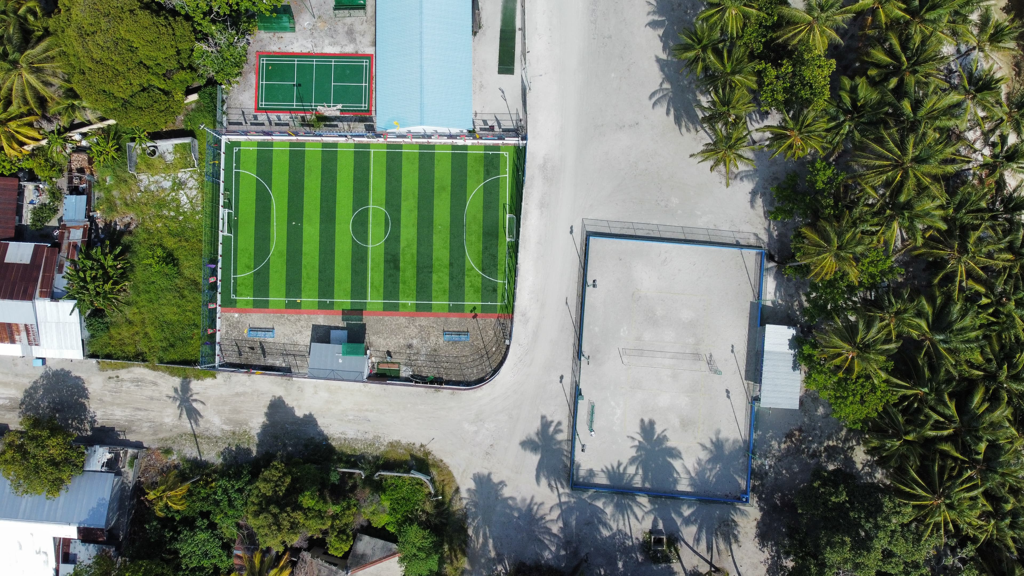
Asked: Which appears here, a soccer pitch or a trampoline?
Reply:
soccer pitch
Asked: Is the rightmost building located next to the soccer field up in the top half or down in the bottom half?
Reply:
top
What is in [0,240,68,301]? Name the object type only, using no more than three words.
house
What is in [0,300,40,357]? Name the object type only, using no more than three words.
house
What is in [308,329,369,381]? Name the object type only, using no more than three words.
building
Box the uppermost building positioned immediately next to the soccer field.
[375,0,473,136]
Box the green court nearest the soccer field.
[255,52,373,115]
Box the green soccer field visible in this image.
[221,141,524,313]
